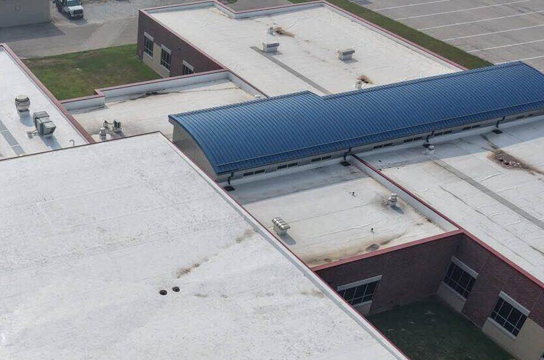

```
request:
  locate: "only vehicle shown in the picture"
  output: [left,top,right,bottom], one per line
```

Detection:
[56,0,83,14]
